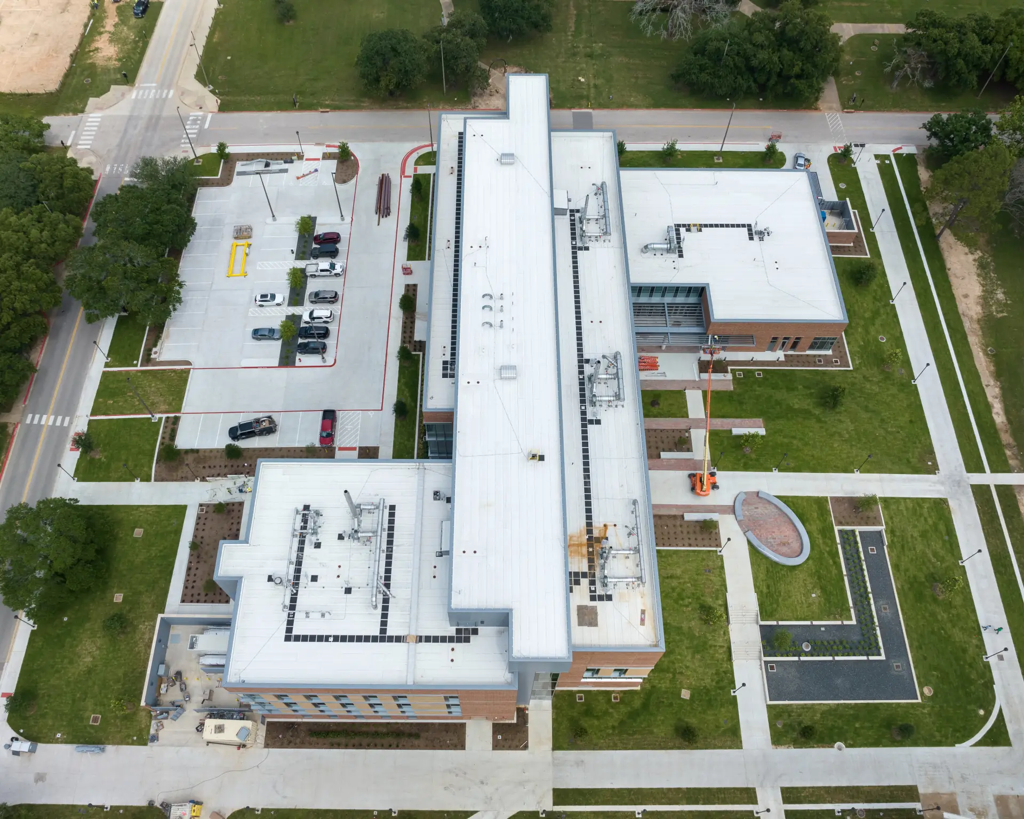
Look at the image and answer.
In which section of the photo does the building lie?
center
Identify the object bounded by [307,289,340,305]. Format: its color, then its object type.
gray car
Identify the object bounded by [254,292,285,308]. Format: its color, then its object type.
white car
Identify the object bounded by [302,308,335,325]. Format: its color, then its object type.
white car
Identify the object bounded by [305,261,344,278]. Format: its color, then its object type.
white vehicle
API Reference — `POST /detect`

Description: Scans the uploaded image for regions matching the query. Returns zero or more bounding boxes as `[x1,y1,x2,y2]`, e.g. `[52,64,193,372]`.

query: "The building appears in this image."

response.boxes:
[214,74,849,719]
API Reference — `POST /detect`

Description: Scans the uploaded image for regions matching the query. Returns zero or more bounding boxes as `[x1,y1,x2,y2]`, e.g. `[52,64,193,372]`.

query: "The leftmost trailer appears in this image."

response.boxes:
[0,735,40,758]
